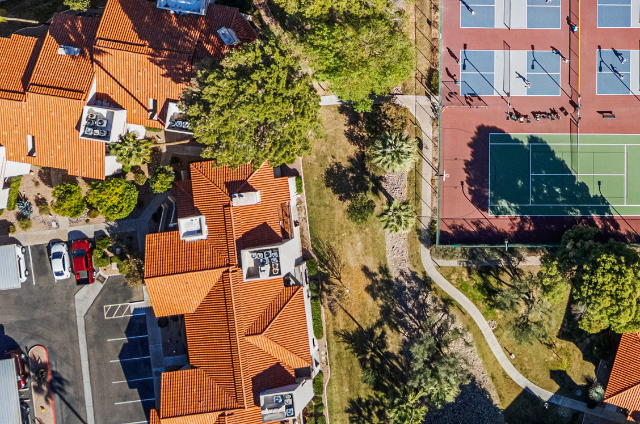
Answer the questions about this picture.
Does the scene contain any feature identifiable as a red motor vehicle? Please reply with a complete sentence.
Yes, a red motor vehicle can be made out from above.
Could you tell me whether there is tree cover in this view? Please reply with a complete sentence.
Yes, tree cover can be seen from above here.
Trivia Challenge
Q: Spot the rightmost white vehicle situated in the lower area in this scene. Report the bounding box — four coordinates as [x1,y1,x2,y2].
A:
[45,243,67,280]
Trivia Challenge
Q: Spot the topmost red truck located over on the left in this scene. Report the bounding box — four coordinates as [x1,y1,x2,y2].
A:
[68,241,91,283]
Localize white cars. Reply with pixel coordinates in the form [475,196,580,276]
[45,243,67,280]
[17,246,30,282]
